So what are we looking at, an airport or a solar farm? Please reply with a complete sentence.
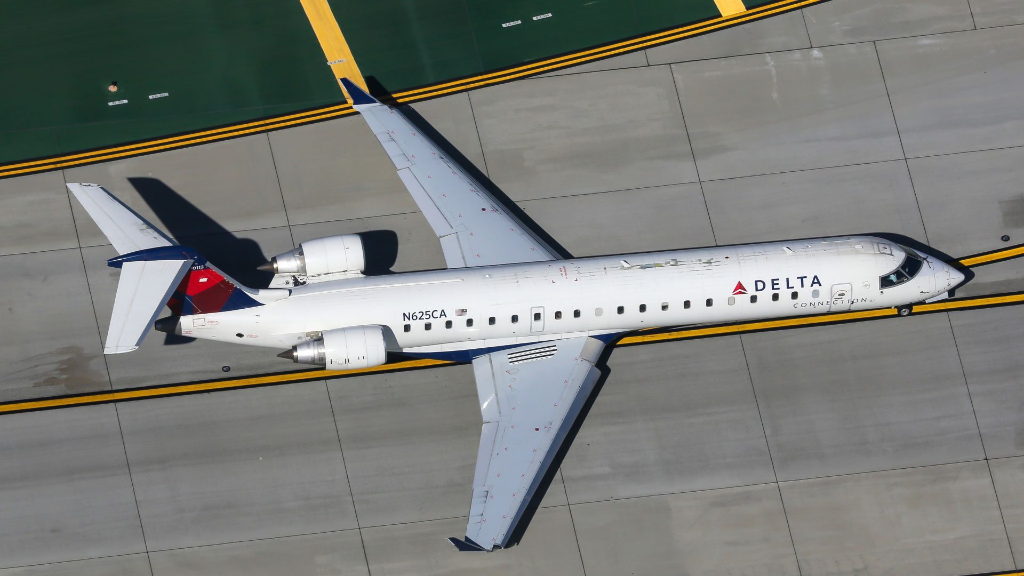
This image shows an airport.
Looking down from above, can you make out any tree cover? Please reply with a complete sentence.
No, tree cover can't be seen anywhere here.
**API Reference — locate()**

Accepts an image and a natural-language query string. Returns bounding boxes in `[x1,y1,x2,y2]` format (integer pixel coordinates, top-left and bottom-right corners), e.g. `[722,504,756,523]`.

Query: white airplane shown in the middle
[66,78,964,551]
